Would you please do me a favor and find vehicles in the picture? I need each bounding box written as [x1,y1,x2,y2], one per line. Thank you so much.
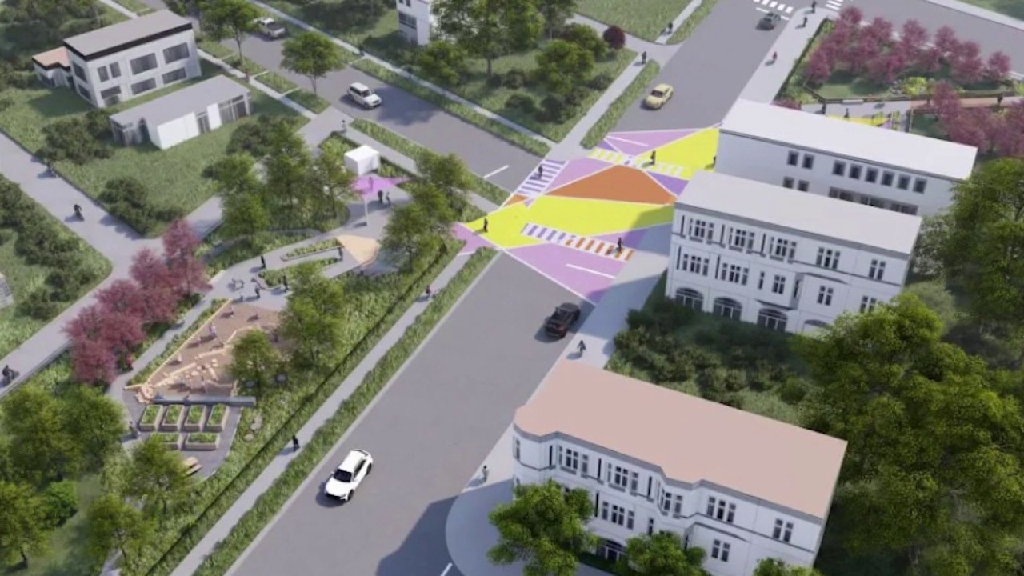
[346,80,382,106]
[760,11,780,27]
[323,446,375,500]
[253,17,286,37]
[543,299,581,336]
[647,85,672,106]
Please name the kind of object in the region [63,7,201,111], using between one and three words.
house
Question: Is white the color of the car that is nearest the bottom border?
Yes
